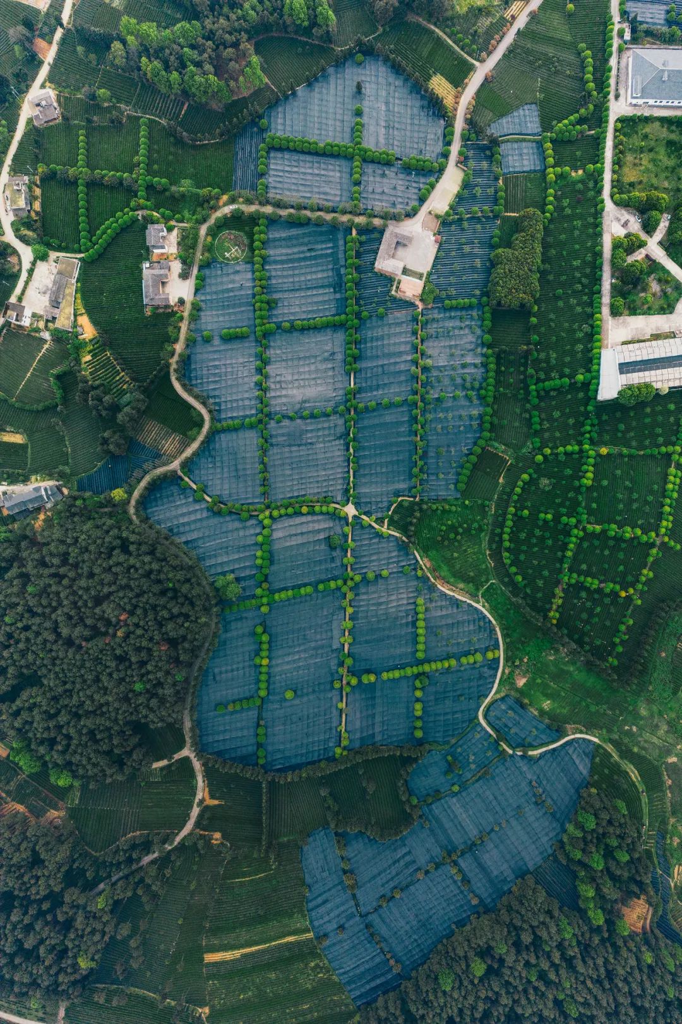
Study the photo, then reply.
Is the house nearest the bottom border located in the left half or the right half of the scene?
left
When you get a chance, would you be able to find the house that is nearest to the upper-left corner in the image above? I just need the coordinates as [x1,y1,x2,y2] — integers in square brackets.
[29,92,59,127]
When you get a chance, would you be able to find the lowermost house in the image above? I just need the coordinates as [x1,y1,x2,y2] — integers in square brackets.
[0,485,65,518]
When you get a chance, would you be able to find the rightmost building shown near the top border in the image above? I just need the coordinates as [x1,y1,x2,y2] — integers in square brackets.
[627,48,682,106]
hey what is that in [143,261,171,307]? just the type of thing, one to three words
house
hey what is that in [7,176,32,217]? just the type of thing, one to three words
house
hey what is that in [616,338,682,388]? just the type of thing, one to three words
shed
